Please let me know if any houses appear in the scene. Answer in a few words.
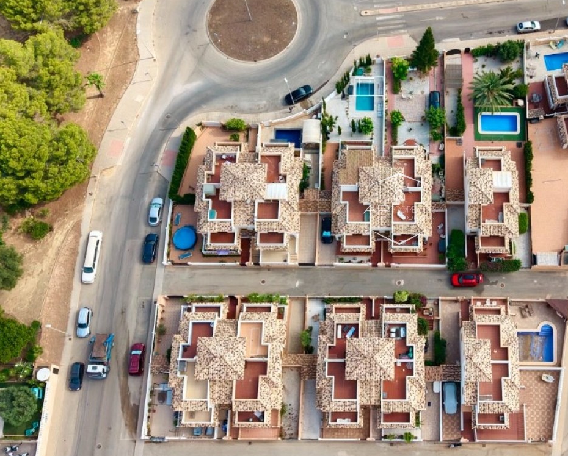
Yes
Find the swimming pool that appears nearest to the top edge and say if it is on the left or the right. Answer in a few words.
right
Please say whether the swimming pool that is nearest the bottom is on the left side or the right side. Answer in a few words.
right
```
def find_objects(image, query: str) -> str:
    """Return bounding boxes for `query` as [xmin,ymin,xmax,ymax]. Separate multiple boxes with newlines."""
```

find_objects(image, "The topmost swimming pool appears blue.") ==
[544,52,568,72]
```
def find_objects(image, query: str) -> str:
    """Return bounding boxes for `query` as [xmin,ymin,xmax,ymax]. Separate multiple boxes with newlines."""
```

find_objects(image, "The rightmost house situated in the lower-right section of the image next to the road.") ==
[457,304,519,429]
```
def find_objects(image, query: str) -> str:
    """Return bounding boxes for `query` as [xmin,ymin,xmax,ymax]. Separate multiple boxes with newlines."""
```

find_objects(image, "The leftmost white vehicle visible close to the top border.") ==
[515,18,541,33]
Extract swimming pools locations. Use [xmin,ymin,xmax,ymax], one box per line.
[515,322,555,364]
[355,81,376,111]
[544,52,568,72]
[274,128,303,148]
[172,226,199,252]
[478,111,520,135]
